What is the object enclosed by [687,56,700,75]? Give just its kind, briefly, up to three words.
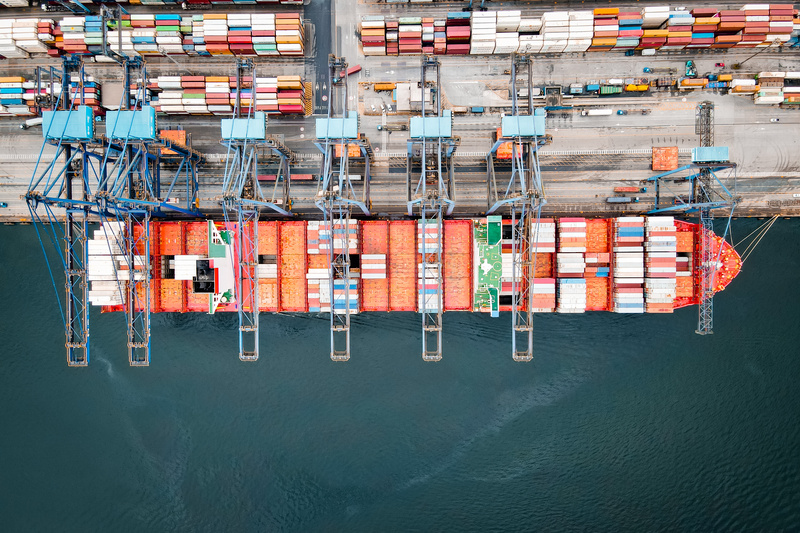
vehicle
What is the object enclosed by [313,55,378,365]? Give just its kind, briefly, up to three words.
container crane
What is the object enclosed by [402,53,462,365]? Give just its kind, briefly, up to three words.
container crane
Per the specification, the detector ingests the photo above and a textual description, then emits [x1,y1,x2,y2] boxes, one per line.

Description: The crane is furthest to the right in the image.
[639,96,752,334]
